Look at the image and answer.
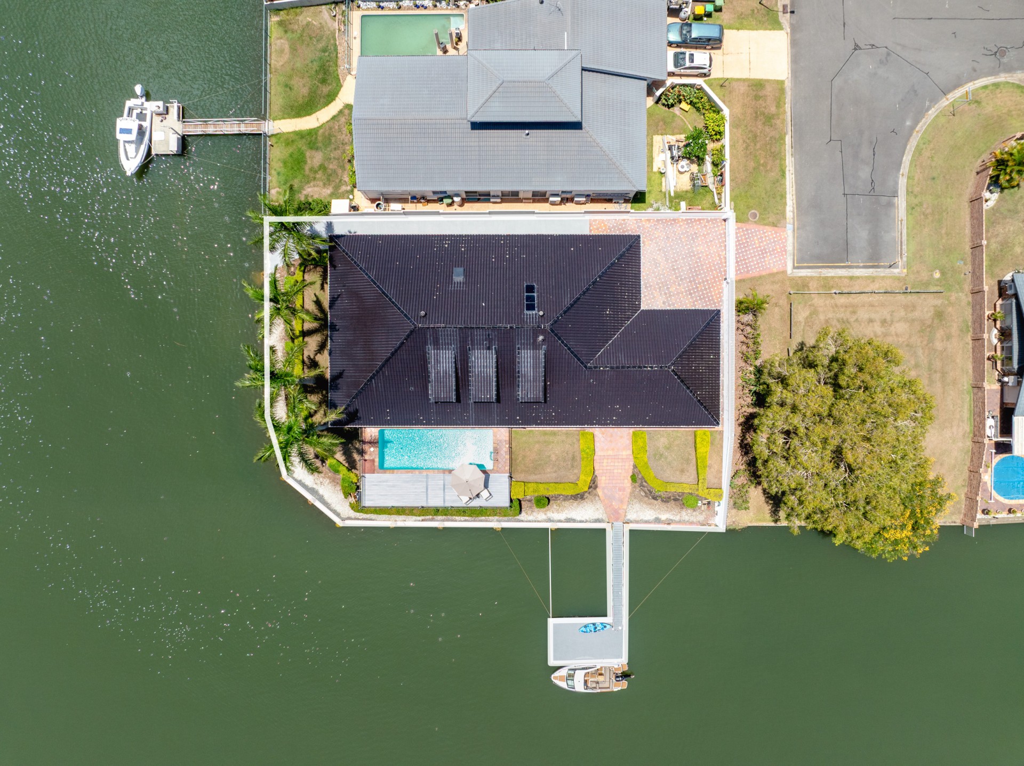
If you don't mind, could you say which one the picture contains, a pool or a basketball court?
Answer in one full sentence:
The one in the frame is a pool.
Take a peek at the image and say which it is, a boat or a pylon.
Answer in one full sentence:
This aerial view contains a boat.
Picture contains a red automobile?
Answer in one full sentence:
No, there appears to be no red automobile in this shot.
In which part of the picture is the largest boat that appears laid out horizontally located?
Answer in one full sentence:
The largest boat that appears laid out horizontally appears toward the bottom of the photo.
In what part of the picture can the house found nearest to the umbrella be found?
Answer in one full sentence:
The house found nearest to the umbrella sits in the center section of the image.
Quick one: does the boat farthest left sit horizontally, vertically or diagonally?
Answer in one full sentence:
Seen from above, the boat farthest left lies vertically.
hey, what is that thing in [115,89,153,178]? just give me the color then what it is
white boat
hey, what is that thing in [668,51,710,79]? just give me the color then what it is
white car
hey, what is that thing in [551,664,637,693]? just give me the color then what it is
white boat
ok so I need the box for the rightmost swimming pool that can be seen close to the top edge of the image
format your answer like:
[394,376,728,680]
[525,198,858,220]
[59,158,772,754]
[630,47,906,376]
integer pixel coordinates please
[360,13,465,54]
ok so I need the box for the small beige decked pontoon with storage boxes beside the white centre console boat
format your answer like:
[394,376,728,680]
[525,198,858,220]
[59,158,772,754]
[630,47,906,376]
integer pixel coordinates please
[153,105,185,156]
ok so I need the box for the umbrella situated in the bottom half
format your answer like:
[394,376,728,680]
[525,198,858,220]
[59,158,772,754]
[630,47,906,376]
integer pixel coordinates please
[446,462,483,499]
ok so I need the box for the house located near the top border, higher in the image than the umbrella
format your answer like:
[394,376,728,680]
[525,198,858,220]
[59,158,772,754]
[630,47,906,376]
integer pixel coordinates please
[352,0,668,208]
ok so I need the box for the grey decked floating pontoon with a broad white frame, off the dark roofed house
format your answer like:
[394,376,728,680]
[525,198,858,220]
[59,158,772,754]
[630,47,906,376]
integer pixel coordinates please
[549,616,627,665]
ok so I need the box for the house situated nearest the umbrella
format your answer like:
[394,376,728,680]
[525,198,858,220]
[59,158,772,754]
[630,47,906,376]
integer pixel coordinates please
[327,233,723,429]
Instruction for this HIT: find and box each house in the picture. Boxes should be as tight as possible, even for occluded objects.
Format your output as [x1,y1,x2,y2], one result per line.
[986,272,1024,457]
[352,0,668,208]
[327,233,723,429]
